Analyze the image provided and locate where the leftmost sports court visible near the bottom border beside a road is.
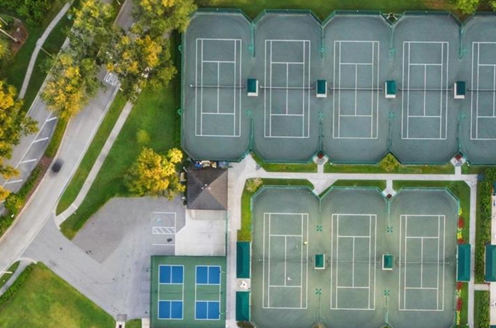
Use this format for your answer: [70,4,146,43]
[151,256,189,328]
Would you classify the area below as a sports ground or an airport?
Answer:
sports ground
